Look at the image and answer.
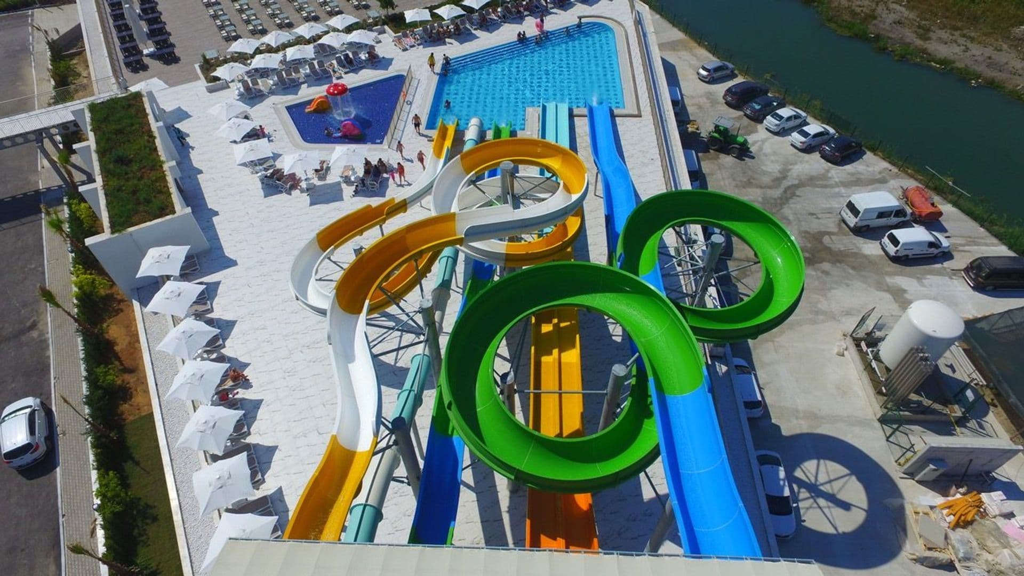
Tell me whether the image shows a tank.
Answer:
Yes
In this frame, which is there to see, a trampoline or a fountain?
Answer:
fountain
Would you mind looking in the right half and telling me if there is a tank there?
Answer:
Yes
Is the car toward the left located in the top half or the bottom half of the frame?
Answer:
bottom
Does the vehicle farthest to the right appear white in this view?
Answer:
No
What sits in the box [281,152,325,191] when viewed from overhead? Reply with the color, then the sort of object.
white umbrella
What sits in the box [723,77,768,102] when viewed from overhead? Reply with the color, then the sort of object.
black car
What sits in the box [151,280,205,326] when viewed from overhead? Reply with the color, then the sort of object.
white umbrella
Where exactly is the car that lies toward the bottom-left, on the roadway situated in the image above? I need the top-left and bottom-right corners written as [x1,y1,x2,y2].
[1,401,48,465]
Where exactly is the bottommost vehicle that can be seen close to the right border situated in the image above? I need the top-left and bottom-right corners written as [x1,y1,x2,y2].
[972,247,1024,287]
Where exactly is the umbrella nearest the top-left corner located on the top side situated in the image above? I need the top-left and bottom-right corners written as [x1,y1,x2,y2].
[122,0,156,51]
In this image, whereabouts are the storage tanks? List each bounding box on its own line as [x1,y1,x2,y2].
[855,307,961,380]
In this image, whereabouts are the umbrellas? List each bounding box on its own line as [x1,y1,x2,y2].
[283,46,319,76]
[151,280,205,326]
[460,0,493,11]
[326,16,360,37]
[234,142,278,179]
[295,24,331,45]
[139,245,195,288]
[253,54,286,86]
[215,121,260,148]
[130,79,169,100]
[347,31,380,61]
[199,503,274,576]
[179,401,250,471]
[212,65,250,97]
[165,322,223,368]
[122,0,156,51]
[401,8,434,26]
[325,145,369,183]
[228,40,265,61]
[281,152,325,191]
[434,6,467,22]
[260,33,295,55]
[185,449,270,525]
[167,356,231,415]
